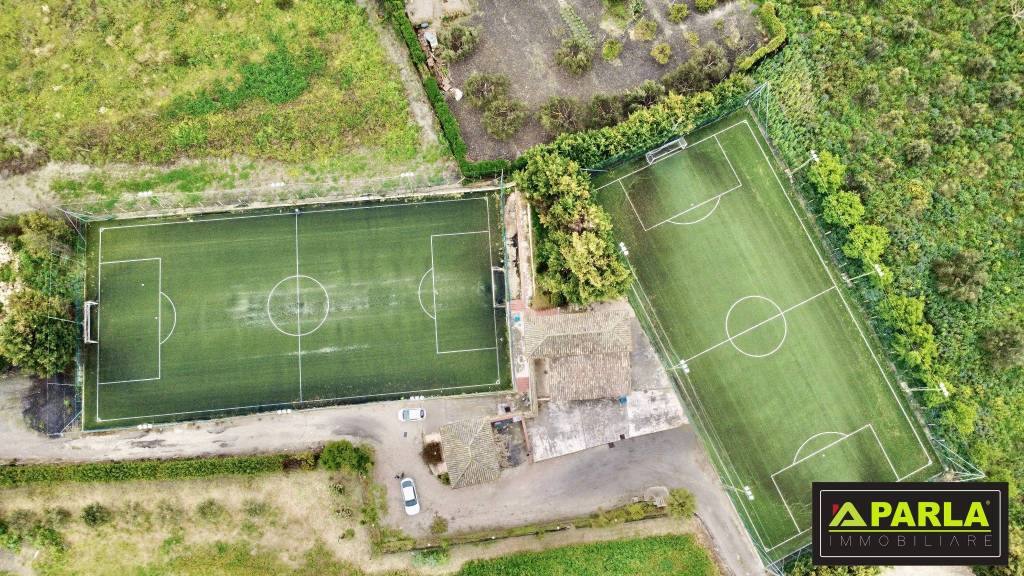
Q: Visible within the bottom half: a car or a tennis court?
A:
car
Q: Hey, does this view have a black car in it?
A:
No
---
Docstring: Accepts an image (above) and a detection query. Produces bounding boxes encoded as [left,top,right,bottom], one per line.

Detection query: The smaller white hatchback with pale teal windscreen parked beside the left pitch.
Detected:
[398,406,427,423]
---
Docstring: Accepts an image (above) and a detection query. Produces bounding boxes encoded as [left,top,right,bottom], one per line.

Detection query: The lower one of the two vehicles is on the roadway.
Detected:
[399,477,420,517]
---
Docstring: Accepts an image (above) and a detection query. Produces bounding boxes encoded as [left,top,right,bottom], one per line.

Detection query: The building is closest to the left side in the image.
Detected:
[439,415,501,490]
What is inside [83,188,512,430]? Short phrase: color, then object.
green soccer field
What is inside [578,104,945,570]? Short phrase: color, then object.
green soccer field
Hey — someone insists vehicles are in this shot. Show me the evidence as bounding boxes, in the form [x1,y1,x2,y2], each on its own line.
[399,477,420,517]
[398,406,427,423]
